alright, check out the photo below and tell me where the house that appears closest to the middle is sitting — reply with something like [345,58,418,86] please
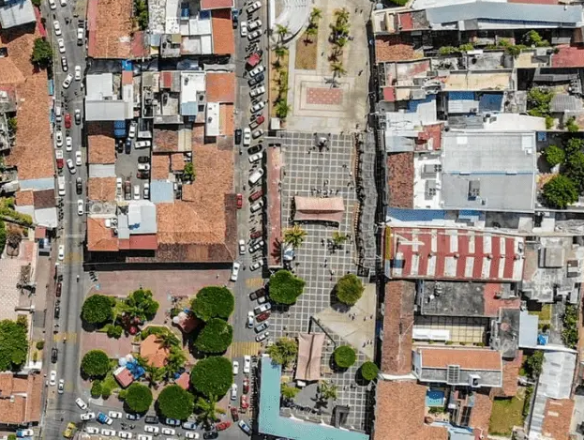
[265,143,283,266]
